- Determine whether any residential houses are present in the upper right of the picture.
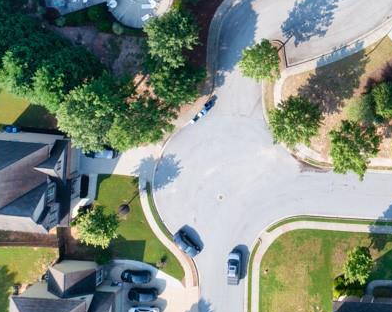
No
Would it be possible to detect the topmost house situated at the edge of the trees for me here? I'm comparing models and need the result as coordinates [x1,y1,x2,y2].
[0,132,82,251]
